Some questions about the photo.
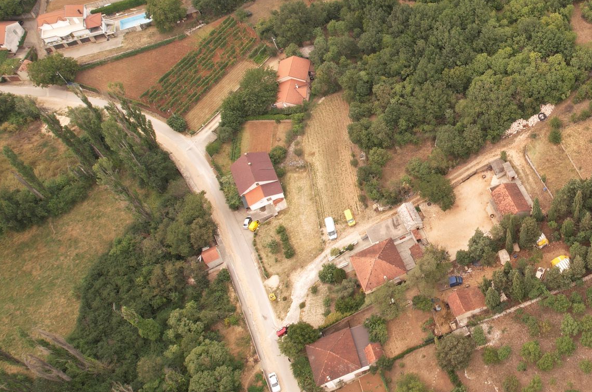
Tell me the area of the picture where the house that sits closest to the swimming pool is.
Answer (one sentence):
The house that sits closest to the swimming pool sits in the top left section of the image.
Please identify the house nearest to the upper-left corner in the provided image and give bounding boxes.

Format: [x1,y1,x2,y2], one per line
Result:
[0,23,30,60]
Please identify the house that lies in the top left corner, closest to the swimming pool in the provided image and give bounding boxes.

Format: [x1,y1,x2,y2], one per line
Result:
[37,5,112,53]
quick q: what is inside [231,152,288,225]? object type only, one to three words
house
